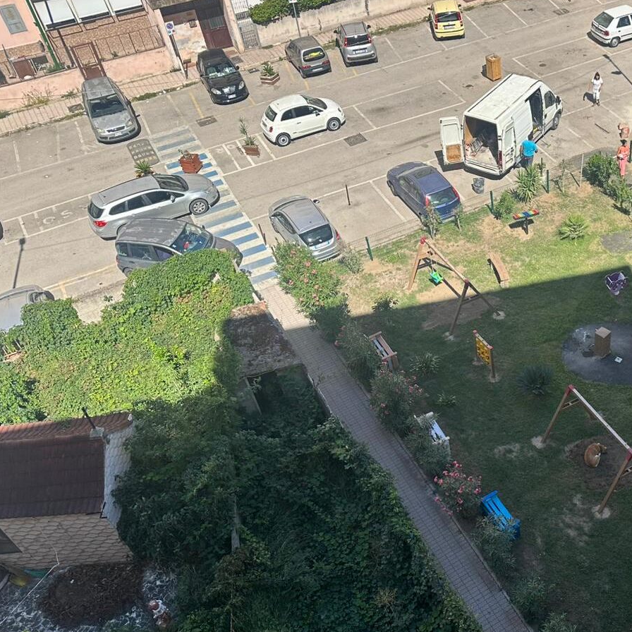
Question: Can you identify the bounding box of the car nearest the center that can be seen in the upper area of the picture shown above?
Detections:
[266,190,349,263]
